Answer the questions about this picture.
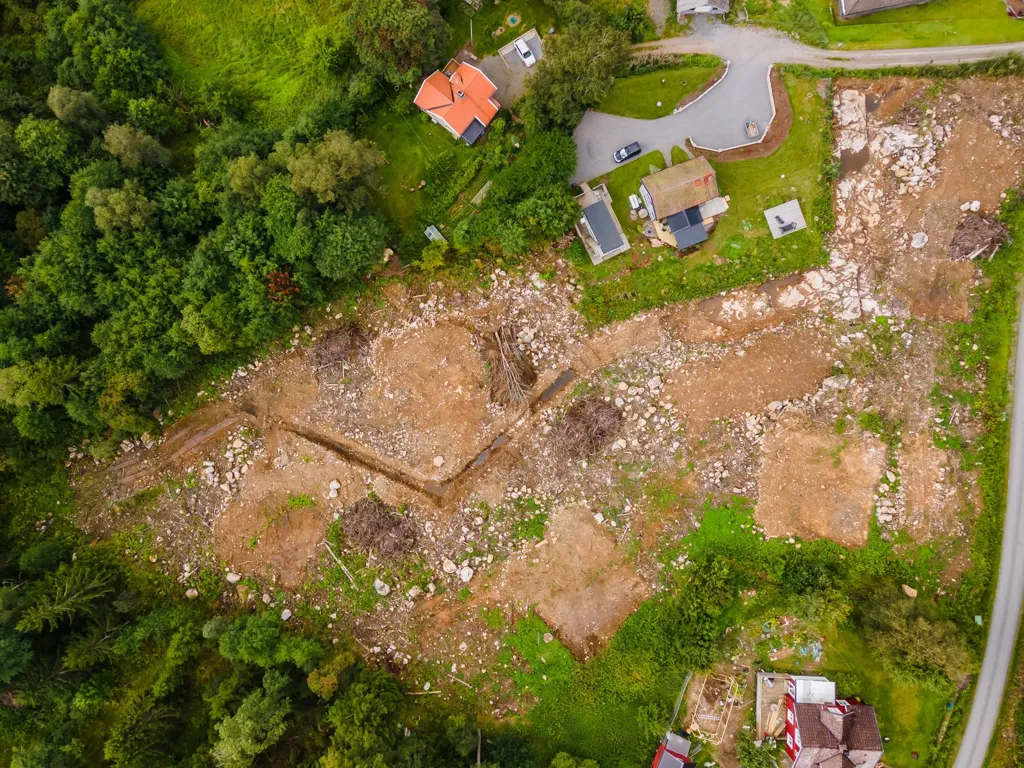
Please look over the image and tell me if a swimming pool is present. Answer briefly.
No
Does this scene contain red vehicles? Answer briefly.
No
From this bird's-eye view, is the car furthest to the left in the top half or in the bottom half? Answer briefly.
top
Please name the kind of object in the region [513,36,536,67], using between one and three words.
car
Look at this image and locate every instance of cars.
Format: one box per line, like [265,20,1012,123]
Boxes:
[613,140,644,162]
[513,36,536,67]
